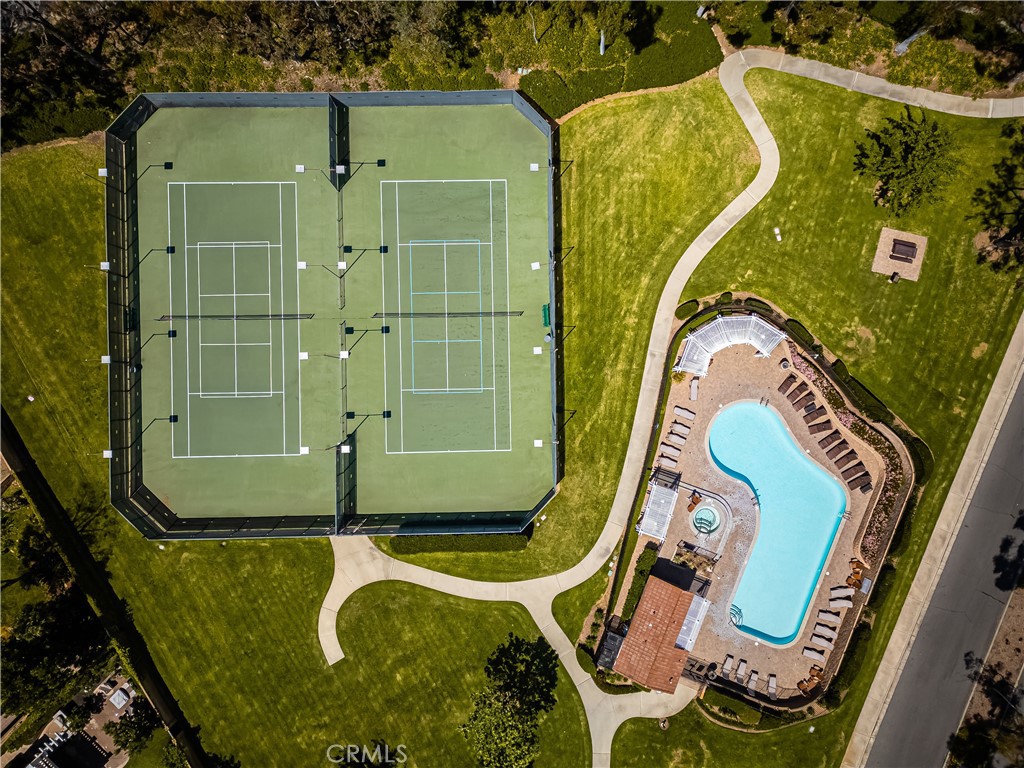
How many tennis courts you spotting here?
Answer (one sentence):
Altogether the scene contains 2 tennis courts.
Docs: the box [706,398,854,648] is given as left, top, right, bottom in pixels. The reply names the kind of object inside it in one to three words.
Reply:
swimming pool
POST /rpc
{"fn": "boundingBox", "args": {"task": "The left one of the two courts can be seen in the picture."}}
[124,105,344,533]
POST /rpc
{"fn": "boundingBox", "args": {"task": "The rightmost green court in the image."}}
[336,104,554,529]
